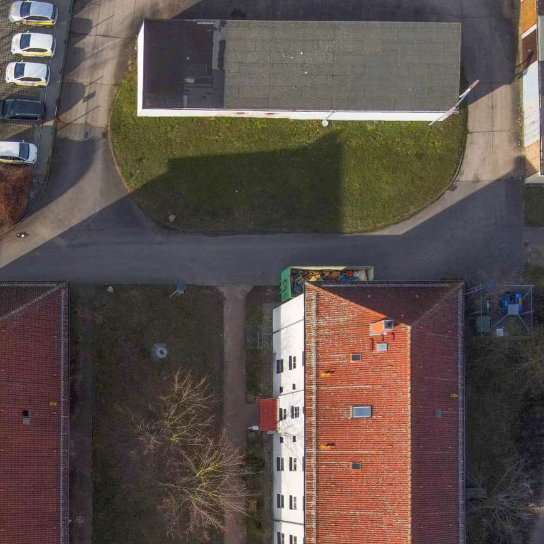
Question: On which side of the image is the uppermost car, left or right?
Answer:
left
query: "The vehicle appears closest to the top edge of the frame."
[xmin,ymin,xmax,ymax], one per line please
[11,0,54,28]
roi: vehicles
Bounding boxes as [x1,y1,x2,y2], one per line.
[11,0,54,28]
[11,31,55,60]
[0,139,36,163]
[5,60,49,88]
[0,96,45,126]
